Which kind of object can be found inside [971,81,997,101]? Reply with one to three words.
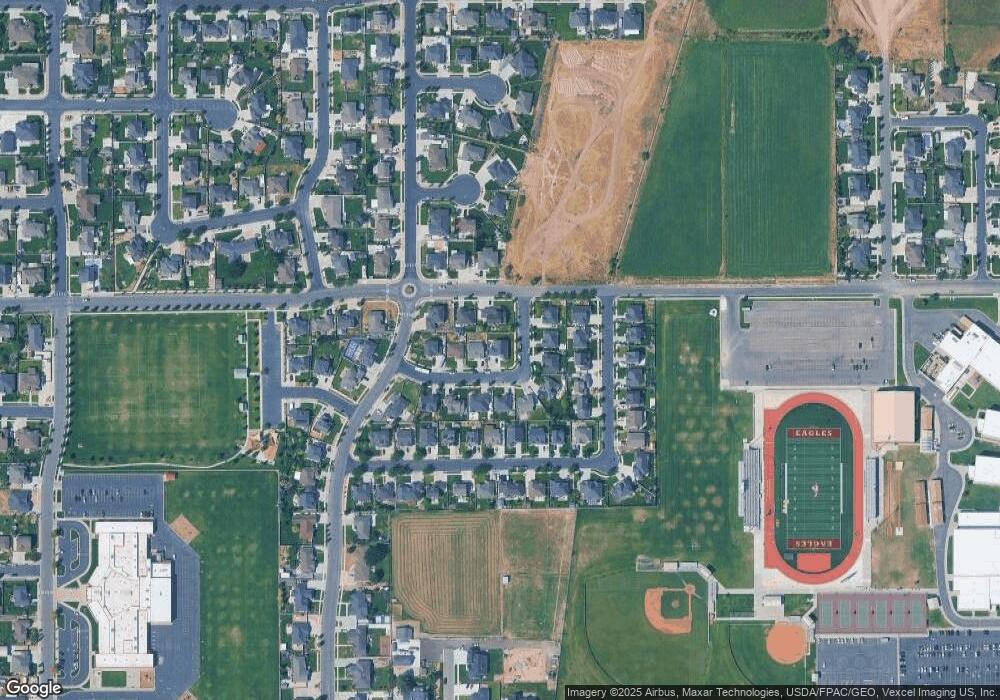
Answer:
house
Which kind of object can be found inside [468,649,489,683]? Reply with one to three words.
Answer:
house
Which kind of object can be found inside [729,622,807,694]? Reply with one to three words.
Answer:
baseball field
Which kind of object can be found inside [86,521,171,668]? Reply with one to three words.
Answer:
building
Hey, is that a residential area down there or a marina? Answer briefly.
residential area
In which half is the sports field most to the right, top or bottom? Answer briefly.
bottom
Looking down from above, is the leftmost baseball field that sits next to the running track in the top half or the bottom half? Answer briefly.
bottom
